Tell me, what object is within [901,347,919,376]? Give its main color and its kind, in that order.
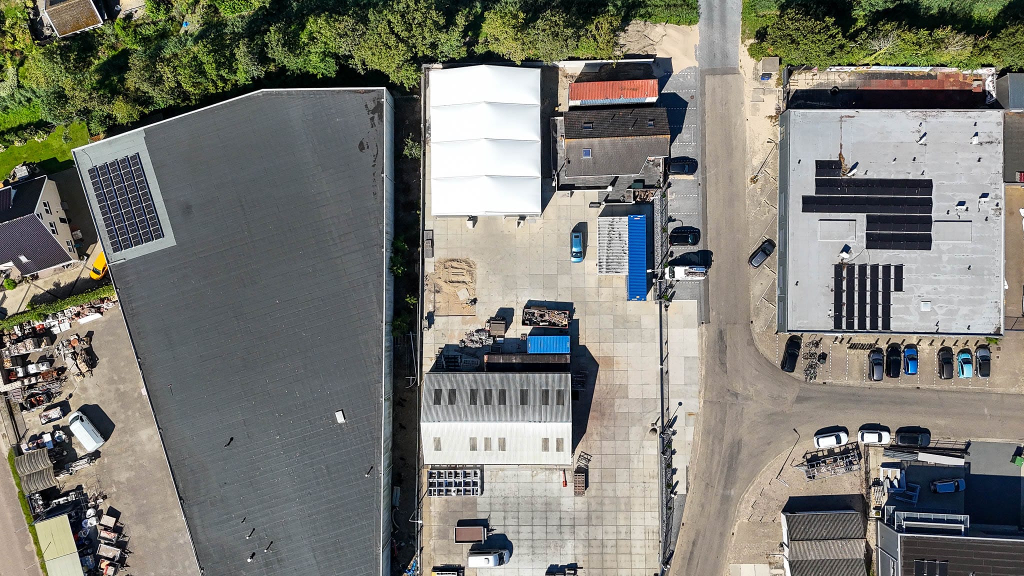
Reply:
blue car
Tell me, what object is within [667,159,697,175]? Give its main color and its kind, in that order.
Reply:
black car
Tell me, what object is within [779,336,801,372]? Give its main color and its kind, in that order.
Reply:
black car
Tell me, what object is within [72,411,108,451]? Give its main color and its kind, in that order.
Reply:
white van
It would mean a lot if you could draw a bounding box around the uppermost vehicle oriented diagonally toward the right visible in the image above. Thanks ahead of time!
[746,238,776,269]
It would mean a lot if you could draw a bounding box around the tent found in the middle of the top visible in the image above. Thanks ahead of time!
[430,64,541,220]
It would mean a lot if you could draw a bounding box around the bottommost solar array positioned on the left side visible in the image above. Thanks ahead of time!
[89,153,161,253]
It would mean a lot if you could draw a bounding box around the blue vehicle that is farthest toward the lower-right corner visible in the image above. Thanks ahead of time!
[929,477,963,494]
